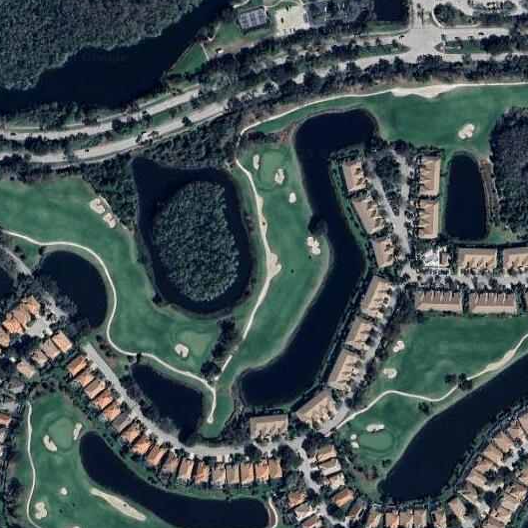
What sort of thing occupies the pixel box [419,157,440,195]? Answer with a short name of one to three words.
house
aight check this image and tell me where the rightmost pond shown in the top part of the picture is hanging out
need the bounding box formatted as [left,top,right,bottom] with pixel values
[445,150,487,239]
